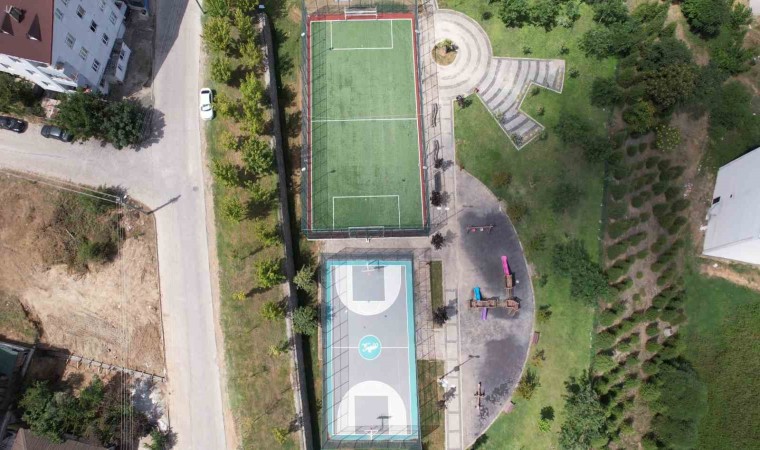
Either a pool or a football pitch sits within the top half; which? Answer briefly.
football pitch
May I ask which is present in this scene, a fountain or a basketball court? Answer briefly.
basketball court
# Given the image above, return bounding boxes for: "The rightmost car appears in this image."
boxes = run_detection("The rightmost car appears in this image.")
[197,86,213,119]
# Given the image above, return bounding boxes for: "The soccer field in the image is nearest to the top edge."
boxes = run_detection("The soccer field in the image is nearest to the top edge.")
[307,13,429,238]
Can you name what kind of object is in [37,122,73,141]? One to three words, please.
car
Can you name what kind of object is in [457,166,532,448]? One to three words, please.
playground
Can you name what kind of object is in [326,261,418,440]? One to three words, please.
basketball court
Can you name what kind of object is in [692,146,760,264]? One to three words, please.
building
